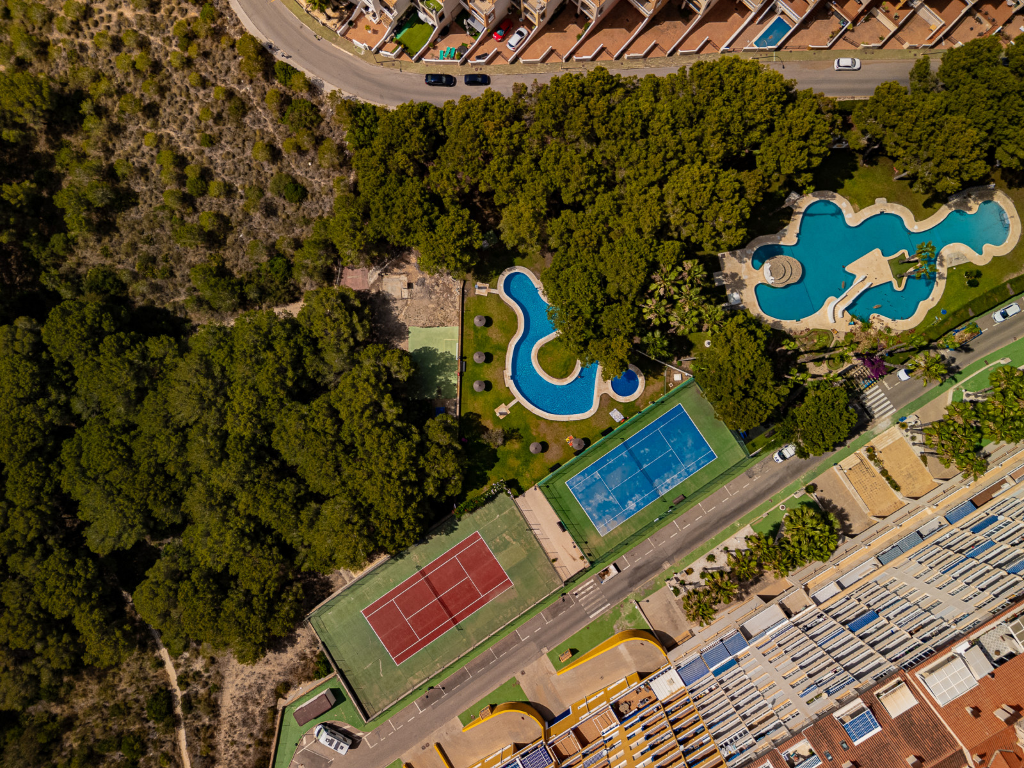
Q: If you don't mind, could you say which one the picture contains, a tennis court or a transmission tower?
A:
tennis court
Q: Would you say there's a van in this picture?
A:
Yes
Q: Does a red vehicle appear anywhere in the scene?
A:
Yes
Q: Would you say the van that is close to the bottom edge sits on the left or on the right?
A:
left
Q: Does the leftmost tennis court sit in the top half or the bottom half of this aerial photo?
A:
bottom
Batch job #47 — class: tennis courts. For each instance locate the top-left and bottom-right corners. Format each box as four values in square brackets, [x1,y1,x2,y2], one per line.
[540,381,748,565]
[310,491,562,719]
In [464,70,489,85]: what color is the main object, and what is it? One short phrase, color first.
black car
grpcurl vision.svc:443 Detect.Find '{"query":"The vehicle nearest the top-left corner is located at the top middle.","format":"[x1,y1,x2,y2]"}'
[425,71,454,86]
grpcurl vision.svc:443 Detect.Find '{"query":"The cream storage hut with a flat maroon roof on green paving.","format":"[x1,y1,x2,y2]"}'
[289,689,335,732]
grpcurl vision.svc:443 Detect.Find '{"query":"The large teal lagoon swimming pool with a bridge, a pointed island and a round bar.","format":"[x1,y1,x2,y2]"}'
[713,189,1022,333]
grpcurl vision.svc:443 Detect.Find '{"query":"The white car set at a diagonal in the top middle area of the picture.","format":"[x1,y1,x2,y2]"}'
[506,24,529,49]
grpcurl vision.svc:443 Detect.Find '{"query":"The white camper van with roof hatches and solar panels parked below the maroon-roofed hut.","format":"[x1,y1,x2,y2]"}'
[312,728,352,765]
